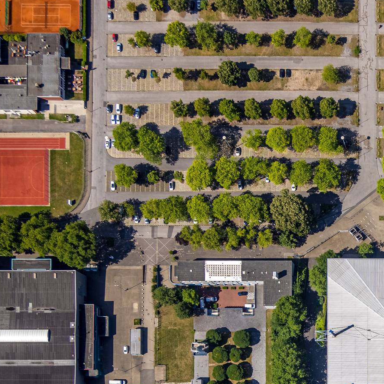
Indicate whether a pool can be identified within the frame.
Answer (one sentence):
No, no pool is visible in the scene.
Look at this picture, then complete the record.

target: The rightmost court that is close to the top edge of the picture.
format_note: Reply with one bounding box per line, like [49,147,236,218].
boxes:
[19,1,73,29]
